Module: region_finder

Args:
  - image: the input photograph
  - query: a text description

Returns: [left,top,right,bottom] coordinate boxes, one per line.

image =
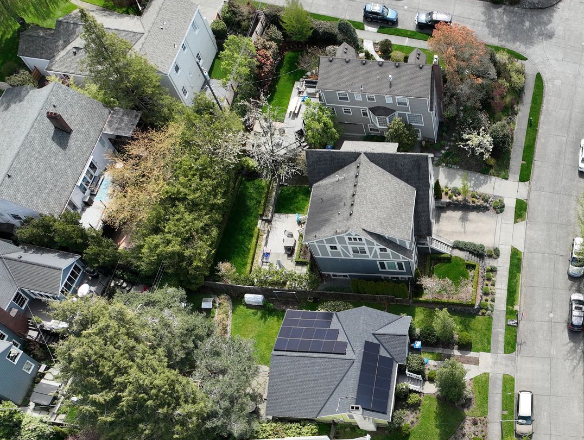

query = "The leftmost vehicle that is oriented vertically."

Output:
[513,390,535,438]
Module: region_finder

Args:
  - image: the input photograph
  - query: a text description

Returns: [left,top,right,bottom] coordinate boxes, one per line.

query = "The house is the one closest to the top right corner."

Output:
[317,42,446,138]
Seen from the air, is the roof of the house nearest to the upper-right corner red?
No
